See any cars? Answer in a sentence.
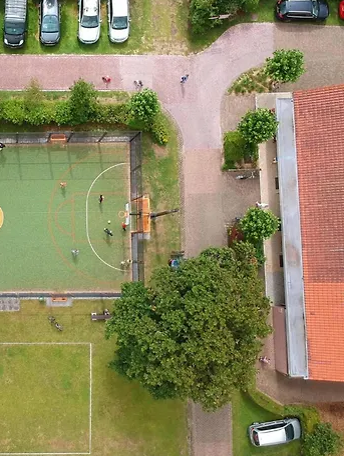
Yes, the frame does contain a car.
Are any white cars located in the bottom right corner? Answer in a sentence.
Yes, I can see a white car in the bottom right corner.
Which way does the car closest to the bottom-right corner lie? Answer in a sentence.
The car closest to the bottom-right corner has been laid out from side to side relative to the frame.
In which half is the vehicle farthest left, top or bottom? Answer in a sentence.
It is in the top half that the vehicle farthest left appears.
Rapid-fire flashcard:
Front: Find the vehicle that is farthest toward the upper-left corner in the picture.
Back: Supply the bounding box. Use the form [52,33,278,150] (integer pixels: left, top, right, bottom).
[3,0,28,49]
